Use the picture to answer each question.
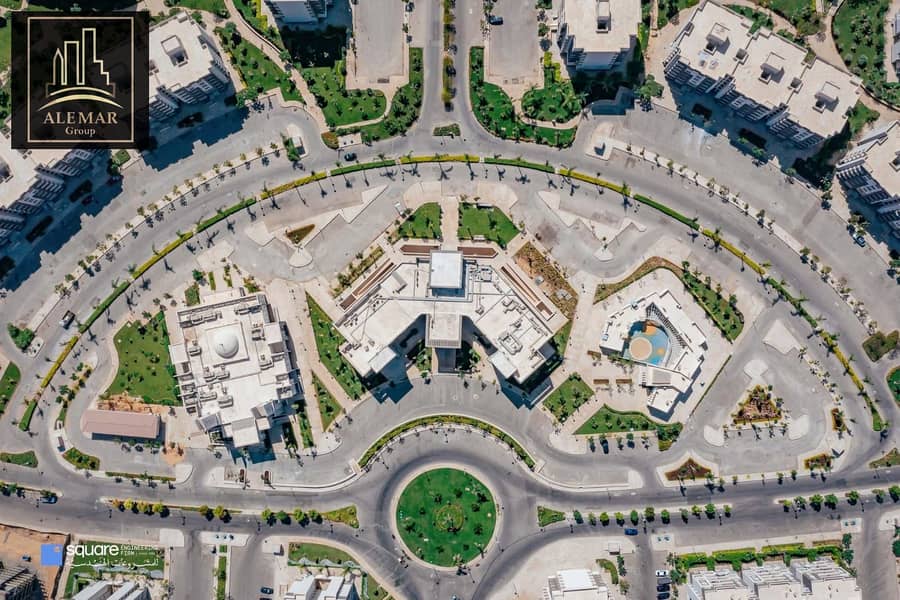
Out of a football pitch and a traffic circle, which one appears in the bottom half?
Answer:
traffic circle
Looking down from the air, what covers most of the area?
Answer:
paved ground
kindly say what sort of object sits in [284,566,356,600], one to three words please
house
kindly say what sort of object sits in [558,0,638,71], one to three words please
building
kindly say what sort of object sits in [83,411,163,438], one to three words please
shed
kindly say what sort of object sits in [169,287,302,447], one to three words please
building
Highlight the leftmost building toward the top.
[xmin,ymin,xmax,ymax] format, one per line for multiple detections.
[0,99,112,250]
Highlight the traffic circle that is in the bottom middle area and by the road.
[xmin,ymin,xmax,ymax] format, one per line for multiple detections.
[390,459,503,575]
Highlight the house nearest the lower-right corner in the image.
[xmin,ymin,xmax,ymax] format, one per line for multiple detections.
[787,553,857,600]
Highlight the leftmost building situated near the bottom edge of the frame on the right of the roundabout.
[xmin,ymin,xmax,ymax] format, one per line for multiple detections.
[545,560,607,600]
